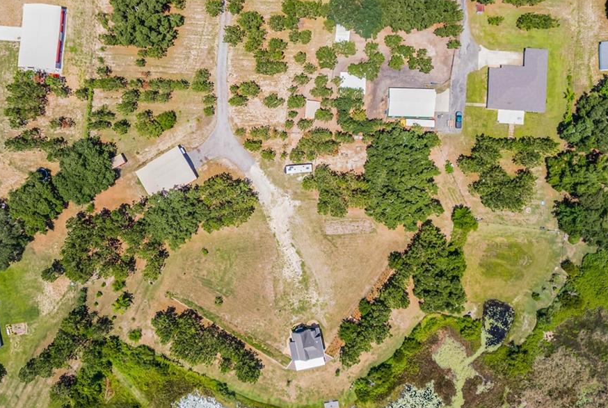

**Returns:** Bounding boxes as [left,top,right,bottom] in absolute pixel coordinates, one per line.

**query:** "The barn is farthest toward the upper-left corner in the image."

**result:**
[18,3,66,73]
